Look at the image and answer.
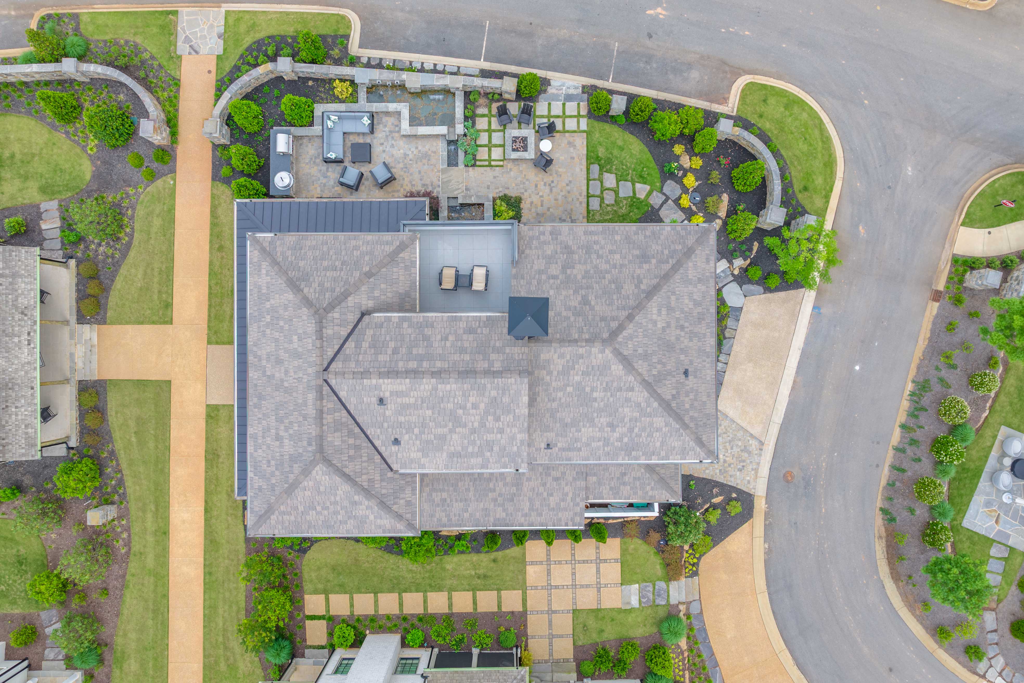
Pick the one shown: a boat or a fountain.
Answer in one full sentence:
Looking from above, you can make out a fountain.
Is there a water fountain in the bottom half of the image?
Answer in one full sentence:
No, in the bottom half of the image there is no water fountain.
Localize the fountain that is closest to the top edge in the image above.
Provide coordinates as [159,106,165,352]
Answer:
[274,81,465,141]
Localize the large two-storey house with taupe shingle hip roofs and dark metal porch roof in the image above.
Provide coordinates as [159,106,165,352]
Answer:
[233,198,719,539]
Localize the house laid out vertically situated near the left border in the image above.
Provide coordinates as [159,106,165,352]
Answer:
[0,245,98,461]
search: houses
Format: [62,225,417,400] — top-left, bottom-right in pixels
[0,641,87,683]
[233,198,719,539]
[0,245,98,461]
[259,633,531,683]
